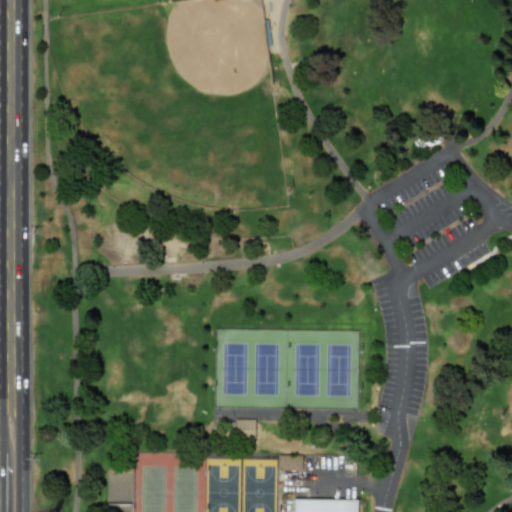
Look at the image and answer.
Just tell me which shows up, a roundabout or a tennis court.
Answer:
tennis court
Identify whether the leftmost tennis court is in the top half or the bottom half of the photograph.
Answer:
bottom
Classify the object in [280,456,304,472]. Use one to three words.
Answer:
shed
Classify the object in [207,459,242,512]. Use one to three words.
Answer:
basketball court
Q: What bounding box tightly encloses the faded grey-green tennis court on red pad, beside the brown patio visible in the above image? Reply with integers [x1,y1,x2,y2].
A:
[135,453,170,512]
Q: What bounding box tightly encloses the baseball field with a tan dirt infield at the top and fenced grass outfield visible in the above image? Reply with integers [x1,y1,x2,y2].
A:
[166,0,271,96]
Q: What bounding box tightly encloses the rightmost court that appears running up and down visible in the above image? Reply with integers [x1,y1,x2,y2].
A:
[324,330,360,408]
